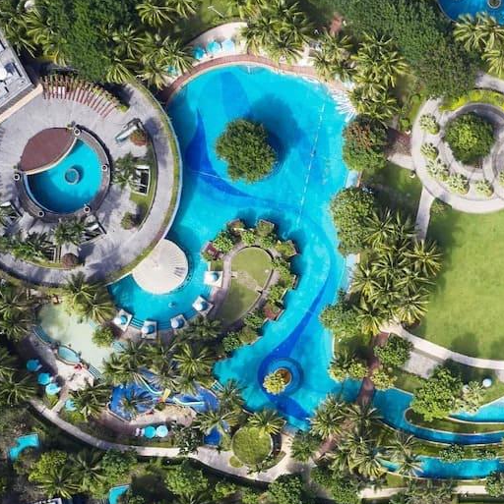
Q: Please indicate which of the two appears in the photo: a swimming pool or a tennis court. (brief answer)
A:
swimming pool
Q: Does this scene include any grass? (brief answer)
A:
Yes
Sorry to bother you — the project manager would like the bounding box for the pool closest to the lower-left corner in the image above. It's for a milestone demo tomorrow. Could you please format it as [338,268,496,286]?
[7,431,43,462]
